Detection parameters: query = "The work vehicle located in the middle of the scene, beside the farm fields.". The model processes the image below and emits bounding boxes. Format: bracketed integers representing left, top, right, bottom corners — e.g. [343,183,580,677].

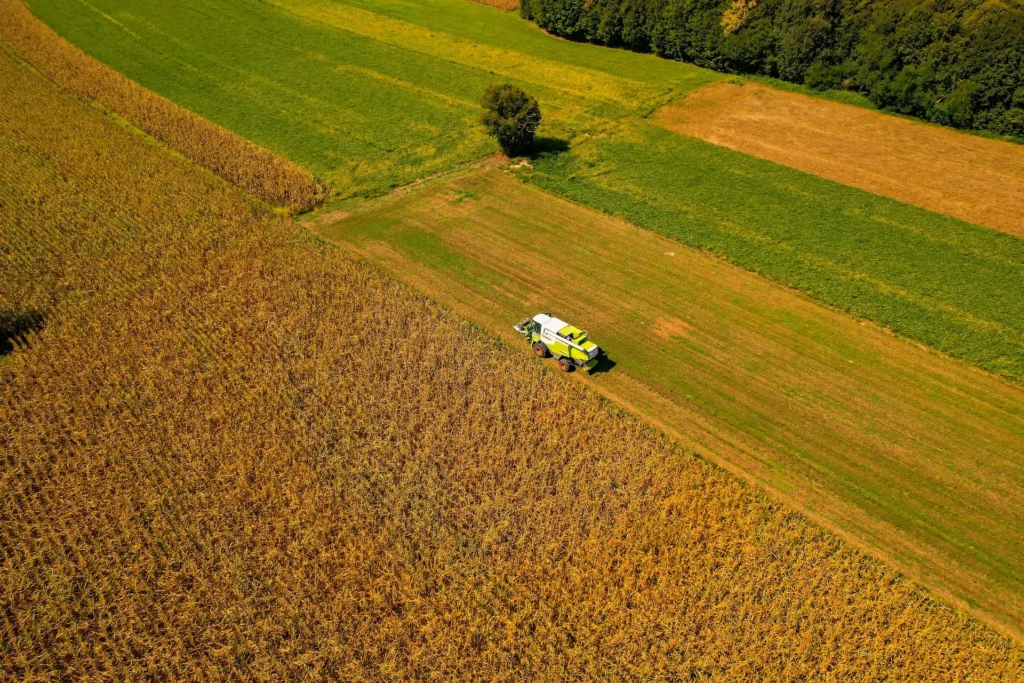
[514,313,600,374]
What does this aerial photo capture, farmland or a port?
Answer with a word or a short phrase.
farmland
